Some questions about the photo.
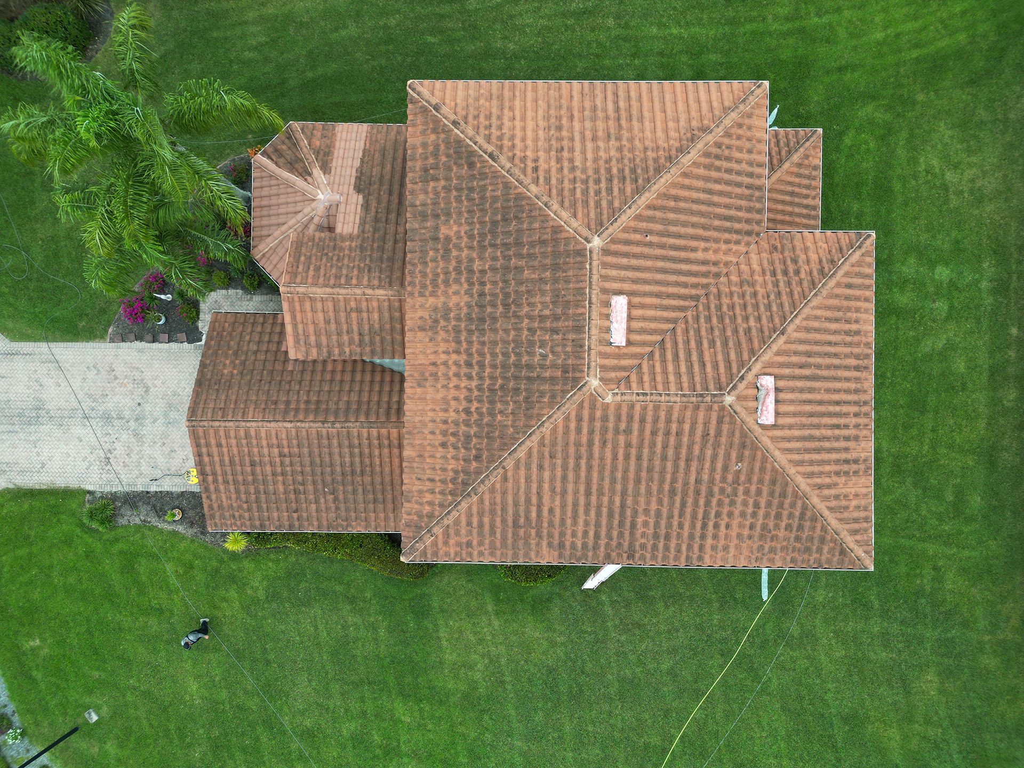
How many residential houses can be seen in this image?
1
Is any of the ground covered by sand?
No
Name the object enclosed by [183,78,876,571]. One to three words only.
house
